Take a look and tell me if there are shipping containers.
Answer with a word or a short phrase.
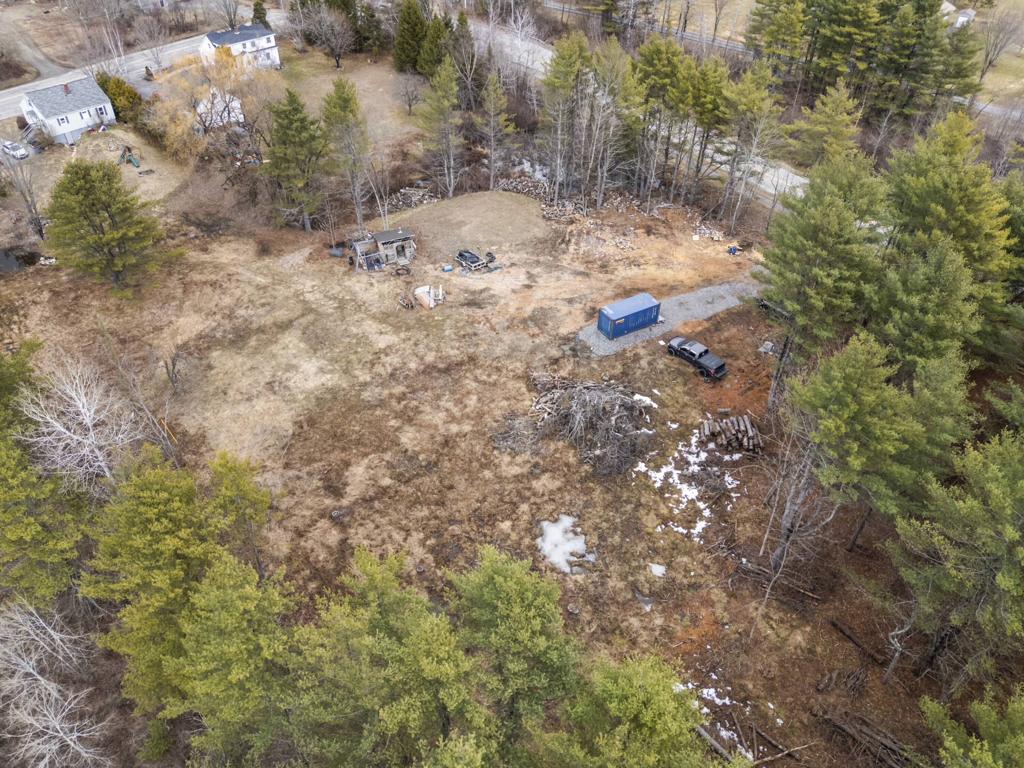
Yes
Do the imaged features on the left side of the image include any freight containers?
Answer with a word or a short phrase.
No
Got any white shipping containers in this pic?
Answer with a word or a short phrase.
No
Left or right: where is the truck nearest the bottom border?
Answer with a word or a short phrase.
right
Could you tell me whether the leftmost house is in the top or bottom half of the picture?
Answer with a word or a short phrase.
top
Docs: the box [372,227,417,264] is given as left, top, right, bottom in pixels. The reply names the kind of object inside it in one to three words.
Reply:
shed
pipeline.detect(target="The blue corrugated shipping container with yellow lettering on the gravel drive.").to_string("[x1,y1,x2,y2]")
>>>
[598,294,661,341]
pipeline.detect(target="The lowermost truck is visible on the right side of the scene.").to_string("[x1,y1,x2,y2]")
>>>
[667,335,730,377]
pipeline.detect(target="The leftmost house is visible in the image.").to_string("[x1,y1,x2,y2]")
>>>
[15,74,116,146]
